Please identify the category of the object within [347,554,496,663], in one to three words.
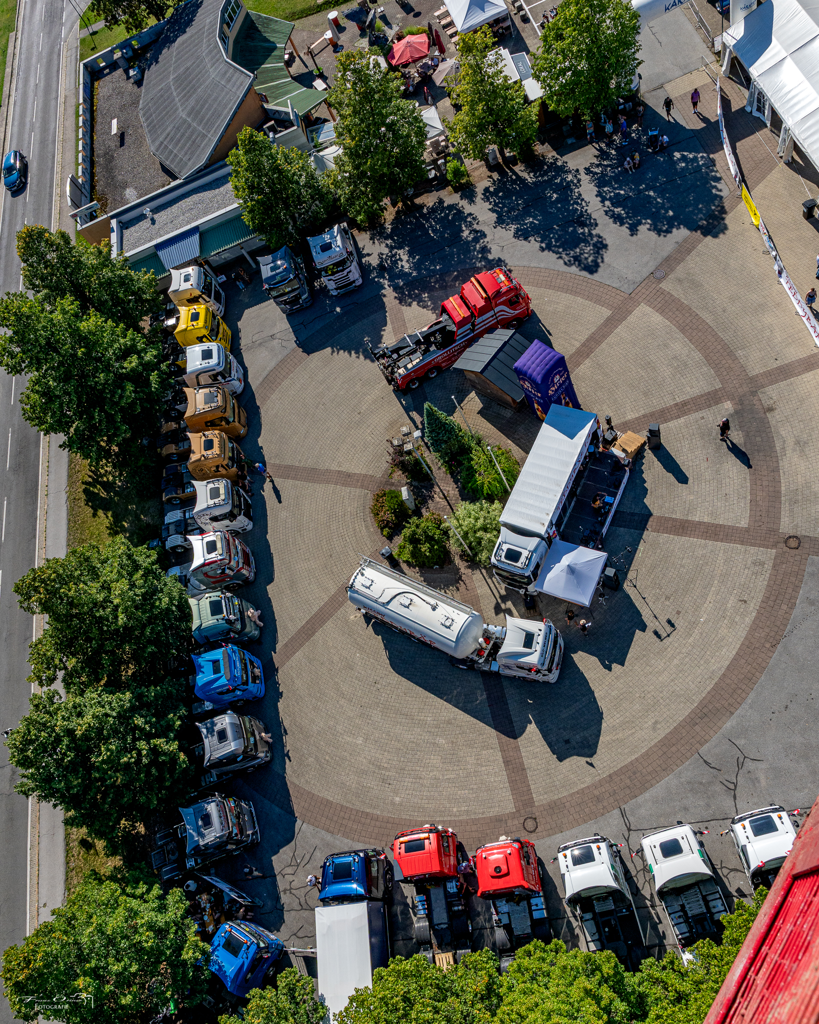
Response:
trailer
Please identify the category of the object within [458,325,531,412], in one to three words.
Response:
shed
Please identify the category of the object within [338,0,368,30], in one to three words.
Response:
umbrella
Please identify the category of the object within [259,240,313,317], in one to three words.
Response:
truck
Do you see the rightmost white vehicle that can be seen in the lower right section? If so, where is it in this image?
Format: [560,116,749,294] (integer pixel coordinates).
[715,791,800,899]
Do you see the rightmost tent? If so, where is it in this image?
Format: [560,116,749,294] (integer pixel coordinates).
[688,0,819,184]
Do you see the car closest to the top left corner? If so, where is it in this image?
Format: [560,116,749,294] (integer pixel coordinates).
[0,152,30,194]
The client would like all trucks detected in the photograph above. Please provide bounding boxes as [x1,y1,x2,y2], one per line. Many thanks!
[316,842,399,1024]
[463,830,561,982]
[356,263,533,398]
[164,425,253,502]
[154,301,236,373]
[166,638,268,725]
[446,616,566,687]
[187,903,294,1024]
[626,810,734,978]
[259,240,313,317]
[544,825,648,983]
[169,702,275,800]
[168,471,260,551]
[168,580,265,668]
[309,220,362,296]
[148,263,227,336]
[164,337,248,414]
[167,523,259,607]
[384,818,480,984]
[715,791,800,899]
[151,785,262,882]
[480,404,601,604]
[165,380,251,457]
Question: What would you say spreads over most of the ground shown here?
paved ground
